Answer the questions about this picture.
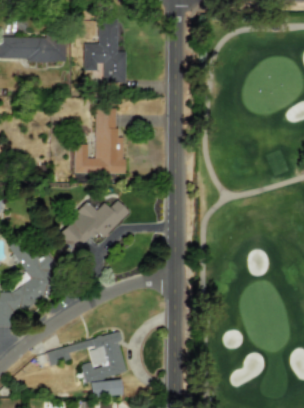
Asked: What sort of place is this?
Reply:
golf course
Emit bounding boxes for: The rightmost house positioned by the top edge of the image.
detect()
[84,20,126,82]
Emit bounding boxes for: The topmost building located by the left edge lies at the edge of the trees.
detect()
[0,34,66,62]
